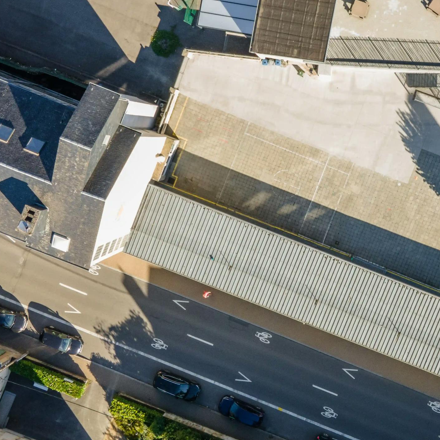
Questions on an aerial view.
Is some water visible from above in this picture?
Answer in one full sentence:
No, no water is visible.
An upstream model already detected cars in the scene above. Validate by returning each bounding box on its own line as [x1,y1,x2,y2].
[34,322,88,360]
[213,392,269,431]
[149,362,205,400]
[0,303,31,334]
[311,430,342,440]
